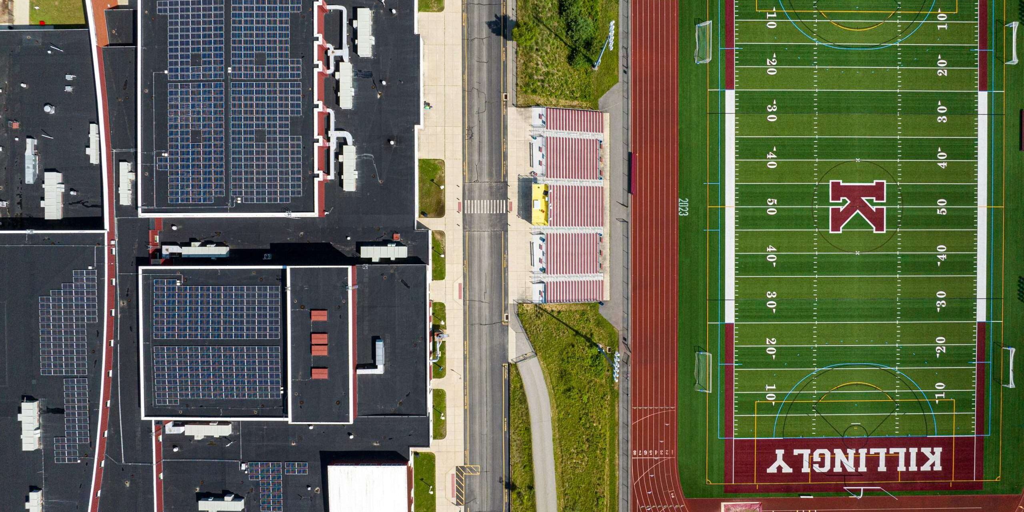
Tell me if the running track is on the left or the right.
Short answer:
right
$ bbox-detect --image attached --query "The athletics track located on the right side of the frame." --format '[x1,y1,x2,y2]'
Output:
[632,0,1024,512]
